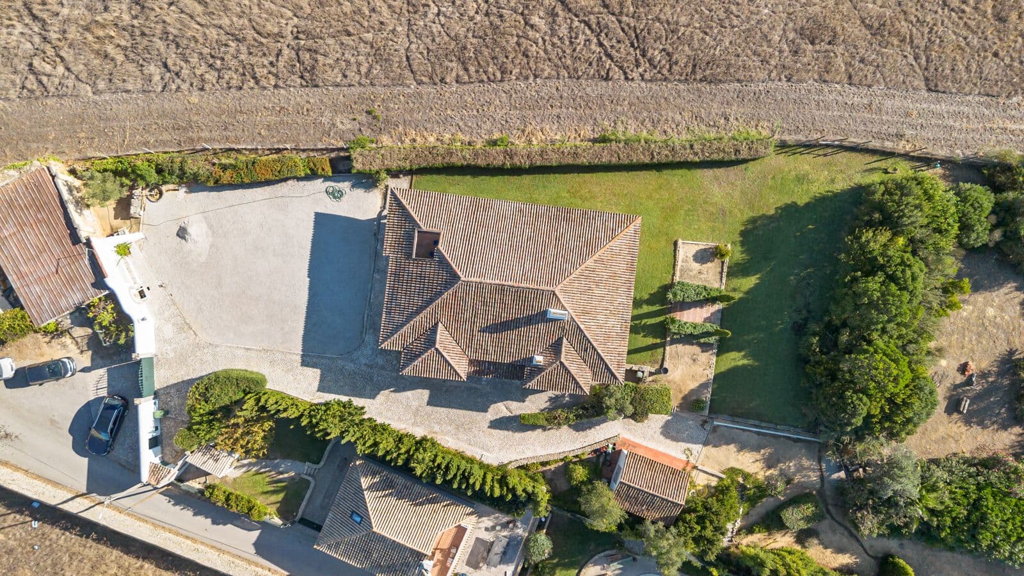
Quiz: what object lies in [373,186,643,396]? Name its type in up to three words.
house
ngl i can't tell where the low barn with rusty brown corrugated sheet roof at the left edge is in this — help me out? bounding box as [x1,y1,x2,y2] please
[0,167,114,330]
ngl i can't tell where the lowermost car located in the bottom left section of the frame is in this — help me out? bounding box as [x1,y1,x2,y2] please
[88,396,132,457]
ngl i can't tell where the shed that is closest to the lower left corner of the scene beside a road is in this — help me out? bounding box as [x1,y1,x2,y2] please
[147,454,191,486]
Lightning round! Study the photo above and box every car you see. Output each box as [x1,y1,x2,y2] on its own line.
[24,356,81,385]
[88,396,132,457]
[0,354,18,382]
